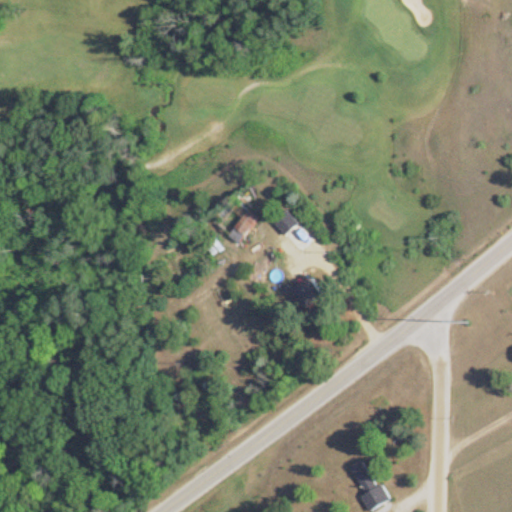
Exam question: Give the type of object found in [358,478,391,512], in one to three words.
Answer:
house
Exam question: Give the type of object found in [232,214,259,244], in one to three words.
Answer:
house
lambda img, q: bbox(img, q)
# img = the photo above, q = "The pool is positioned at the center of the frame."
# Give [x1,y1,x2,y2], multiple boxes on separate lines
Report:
[269,267,285,283]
